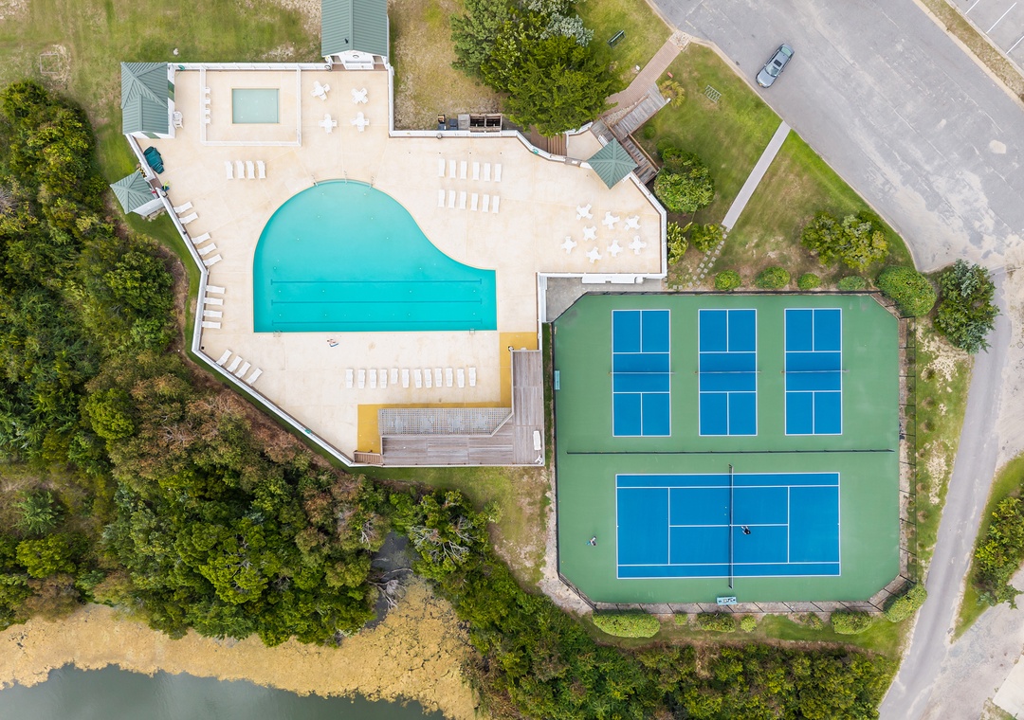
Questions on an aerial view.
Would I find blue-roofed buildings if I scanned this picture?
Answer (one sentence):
No, I can see no blue-roofed building in this picture.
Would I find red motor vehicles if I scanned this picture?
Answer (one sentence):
No, no red motor vehicle can be seen from above.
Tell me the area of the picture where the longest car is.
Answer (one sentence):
Look in the top right portion of the view to spot the longest car.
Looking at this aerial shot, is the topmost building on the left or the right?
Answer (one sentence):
The topmost building sits on the left side.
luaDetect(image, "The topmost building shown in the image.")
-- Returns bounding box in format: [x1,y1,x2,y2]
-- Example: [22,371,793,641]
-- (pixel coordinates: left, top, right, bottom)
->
[321,0,389,69]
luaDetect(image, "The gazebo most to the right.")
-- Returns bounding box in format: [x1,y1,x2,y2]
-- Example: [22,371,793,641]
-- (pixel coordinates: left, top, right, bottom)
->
[588,138,638,190]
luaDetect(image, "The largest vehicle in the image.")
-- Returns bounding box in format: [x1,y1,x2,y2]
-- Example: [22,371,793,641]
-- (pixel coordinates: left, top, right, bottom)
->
[758,40,797,85]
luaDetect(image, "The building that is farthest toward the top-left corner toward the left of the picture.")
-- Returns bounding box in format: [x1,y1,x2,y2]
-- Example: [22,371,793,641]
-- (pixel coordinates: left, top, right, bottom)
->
[120,61,174,138]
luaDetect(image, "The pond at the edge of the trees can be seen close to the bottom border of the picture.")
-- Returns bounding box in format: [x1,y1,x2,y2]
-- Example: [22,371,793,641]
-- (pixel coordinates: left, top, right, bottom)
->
[0,532,464,720]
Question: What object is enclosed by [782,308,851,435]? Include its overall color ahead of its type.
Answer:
blue sports court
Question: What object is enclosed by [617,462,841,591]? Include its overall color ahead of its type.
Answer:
blue tennis court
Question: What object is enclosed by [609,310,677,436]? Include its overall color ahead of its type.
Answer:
blue sports court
